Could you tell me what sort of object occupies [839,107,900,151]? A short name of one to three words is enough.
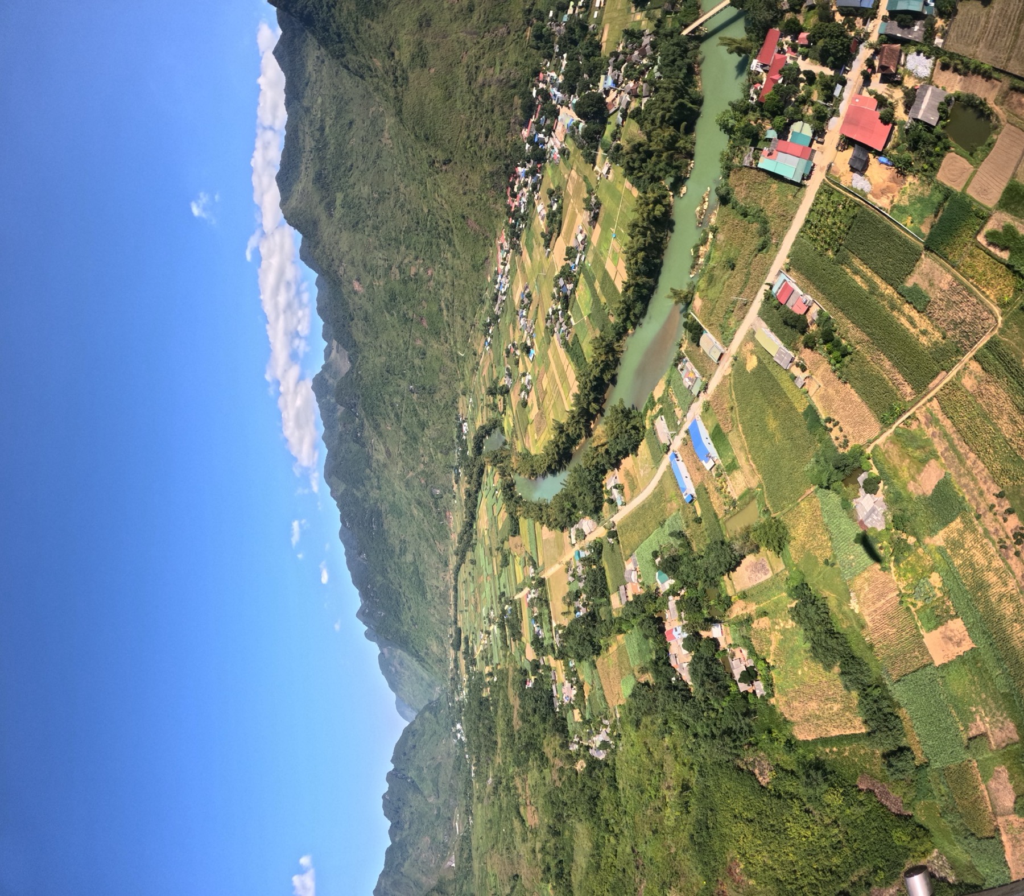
building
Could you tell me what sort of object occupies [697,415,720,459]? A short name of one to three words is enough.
house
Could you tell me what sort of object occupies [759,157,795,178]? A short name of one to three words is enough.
house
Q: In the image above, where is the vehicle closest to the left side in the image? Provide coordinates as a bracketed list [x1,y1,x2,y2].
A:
[812,130,826,148]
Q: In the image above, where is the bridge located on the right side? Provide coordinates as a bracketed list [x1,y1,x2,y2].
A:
[683,0,735,34]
